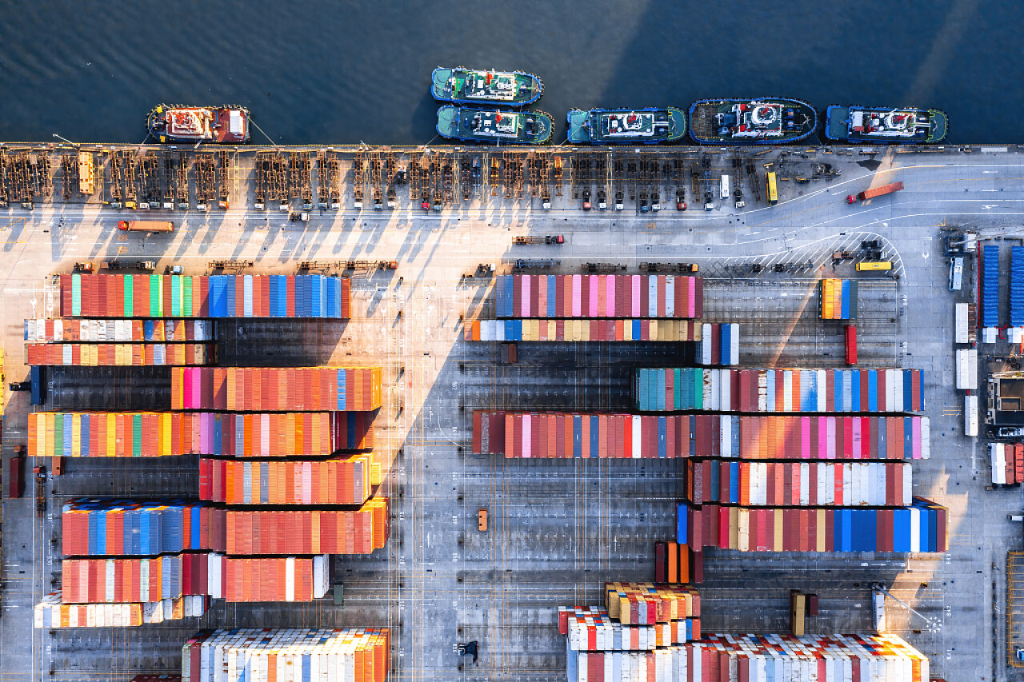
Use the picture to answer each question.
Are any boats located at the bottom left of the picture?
No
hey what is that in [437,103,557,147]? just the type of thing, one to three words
boat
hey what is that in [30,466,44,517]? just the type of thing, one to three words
vehicle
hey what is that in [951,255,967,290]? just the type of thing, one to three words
vehicle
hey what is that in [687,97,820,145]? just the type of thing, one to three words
boat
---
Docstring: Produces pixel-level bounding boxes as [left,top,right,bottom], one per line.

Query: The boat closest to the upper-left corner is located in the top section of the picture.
[145,104,253,146]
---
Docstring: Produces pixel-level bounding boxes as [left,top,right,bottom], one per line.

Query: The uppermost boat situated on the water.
[431,65,546,109]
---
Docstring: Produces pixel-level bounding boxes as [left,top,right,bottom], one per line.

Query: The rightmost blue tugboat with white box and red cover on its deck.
[823,104,950,144]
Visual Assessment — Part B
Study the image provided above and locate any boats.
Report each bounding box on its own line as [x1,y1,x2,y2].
[431,65,546,109]
[823,104,950,144]
[437,103,557,147]
[145,104,253,146]
[566,106,687,145]
[687,97,820,145]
